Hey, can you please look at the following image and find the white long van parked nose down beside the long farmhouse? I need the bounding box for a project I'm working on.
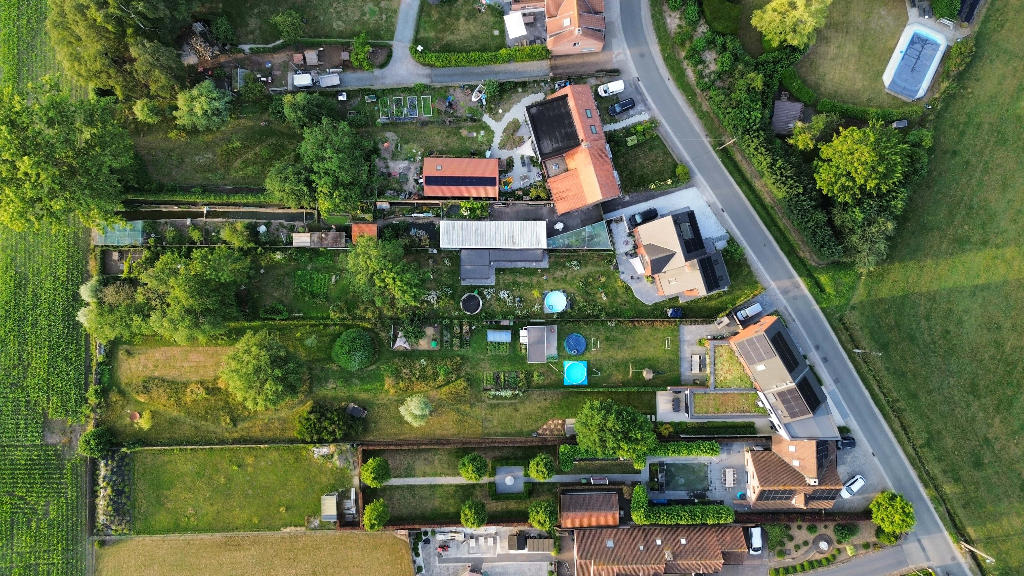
[747,523,763,556]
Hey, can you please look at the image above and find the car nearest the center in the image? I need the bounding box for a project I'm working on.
[628,207,659,226]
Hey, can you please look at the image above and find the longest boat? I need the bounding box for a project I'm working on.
[472,85,485,101]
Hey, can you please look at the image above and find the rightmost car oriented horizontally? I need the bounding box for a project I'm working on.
[832,436,860,450]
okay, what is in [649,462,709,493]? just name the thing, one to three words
pond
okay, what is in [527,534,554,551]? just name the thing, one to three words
shed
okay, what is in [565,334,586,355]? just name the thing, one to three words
swimming pool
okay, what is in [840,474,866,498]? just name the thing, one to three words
car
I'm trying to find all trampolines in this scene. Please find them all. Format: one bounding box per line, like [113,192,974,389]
[460,292,482,314]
